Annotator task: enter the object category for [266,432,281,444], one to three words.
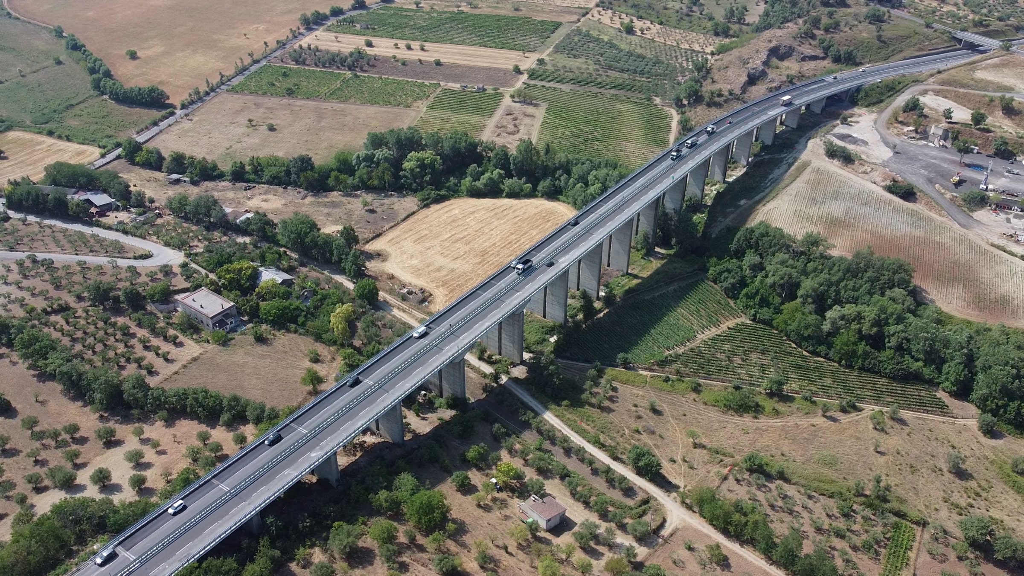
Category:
vehicle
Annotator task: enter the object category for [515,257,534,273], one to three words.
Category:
vehicle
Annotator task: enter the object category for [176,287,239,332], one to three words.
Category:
house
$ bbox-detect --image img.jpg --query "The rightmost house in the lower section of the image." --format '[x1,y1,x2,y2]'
[521,488,565,527]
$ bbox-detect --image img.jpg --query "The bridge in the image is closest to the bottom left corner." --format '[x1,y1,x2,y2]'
[96,75,870,576]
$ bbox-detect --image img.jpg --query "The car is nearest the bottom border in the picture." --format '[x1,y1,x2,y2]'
[95,548,116,565]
